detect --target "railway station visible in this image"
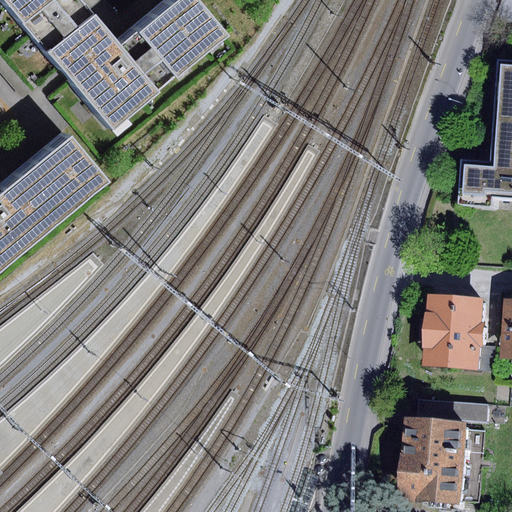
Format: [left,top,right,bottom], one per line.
[0,114,322,512]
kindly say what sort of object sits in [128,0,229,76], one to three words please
building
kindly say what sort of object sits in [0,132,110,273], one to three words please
building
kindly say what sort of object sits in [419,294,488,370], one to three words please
house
